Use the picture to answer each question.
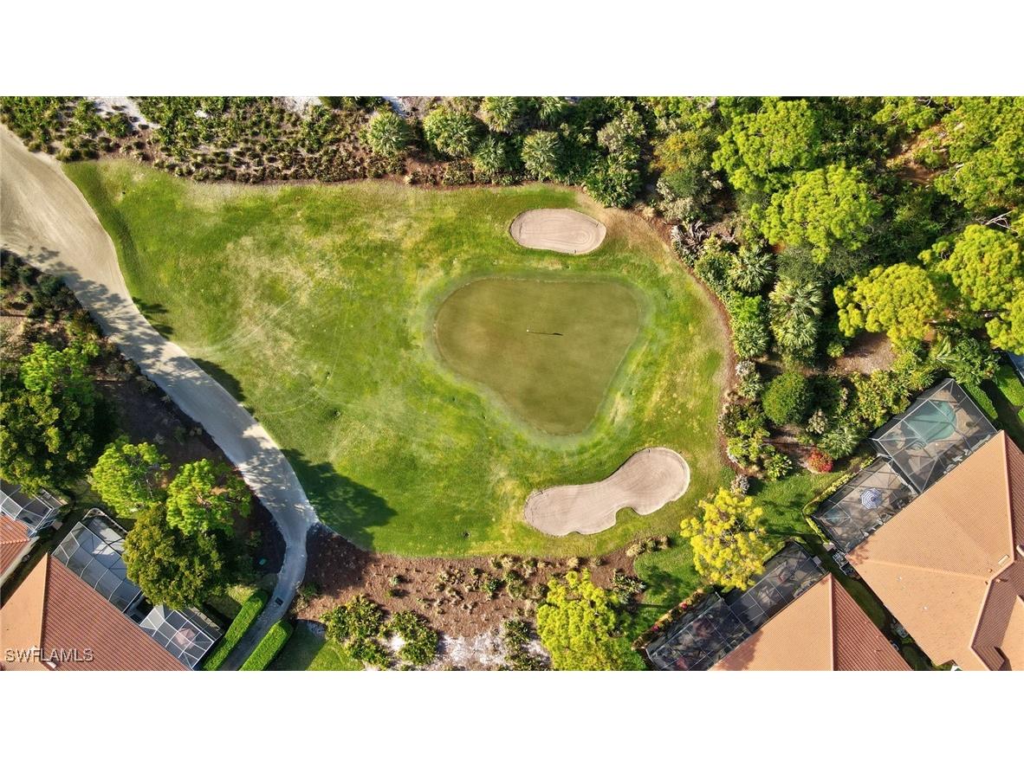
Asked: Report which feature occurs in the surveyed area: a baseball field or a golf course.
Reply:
golf course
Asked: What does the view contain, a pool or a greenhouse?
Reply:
pool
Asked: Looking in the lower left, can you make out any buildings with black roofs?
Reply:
No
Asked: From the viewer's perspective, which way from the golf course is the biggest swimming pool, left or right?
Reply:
to the right of it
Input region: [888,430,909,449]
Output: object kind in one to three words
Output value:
swimming pool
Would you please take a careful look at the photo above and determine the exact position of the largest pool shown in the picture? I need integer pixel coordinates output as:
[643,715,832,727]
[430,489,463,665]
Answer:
[901,397,961,446]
